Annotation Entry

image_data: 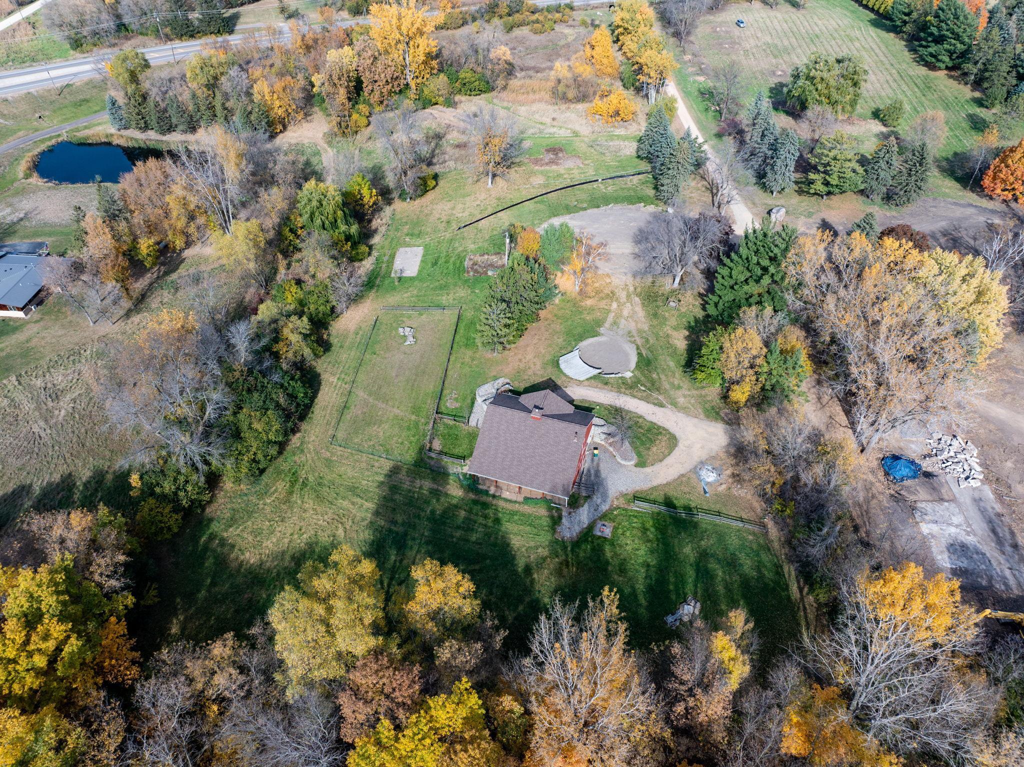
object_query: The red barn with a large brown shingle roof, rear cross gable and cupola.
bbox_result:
[467,389,597,517]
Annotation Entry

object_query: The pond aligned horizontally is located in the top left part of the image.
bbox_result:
[36,144,207,186]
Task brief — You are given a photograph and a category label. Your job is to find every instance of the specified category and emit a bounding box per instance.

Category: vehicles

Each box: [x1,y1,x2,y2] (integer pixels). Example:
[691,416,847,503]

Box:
[734,18,747,27]
[958,609,1024,638]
